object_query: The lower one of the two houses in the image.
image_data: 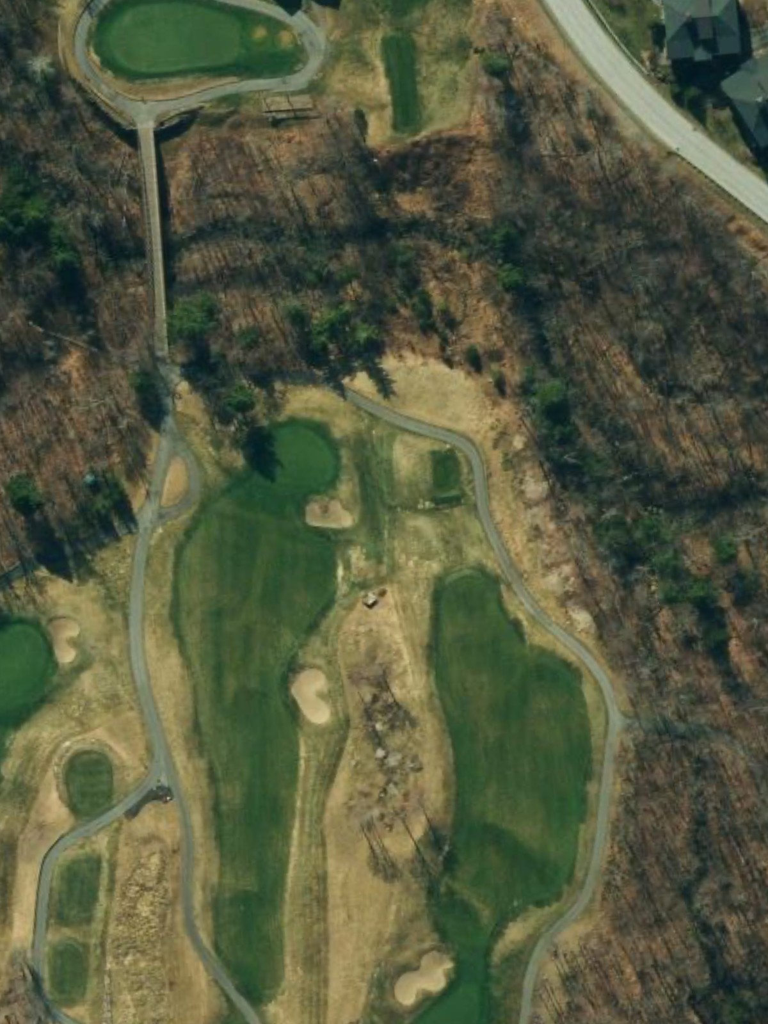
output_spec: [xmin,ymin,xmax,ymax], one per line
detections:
[724,72,768,158]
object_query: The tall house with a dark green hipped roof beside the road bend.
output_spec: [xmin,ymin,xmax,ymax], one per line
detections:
[666,0,743,67]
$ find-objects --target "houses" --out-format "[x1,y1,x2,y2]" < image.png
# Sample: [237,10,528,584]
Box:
[666,0,743,67]
[724,72,768,158]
